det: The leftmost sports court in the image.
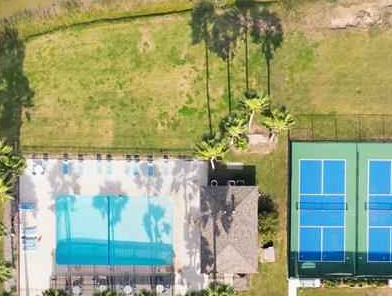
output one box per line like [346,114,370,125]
[290,140,357,276]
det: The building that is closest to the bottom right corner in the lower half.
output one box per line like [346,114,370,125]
[201,186,258,274]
